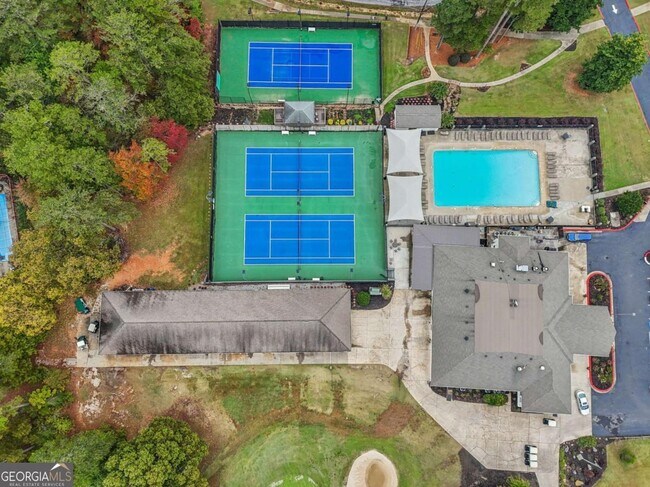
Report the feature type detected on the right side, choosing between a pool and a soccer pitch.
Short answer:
pool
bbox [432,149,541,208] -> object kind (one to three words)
swimming pool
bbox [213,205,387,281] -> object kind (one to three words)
tennis court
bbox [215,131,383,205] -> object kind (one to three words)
tennis court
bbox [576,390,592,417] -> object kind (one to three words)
car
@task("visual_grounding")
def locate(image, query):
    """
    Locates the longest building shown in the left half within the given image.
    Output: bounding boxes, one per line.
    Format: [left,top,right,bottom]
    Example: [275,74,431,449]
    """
[98,288,352,354]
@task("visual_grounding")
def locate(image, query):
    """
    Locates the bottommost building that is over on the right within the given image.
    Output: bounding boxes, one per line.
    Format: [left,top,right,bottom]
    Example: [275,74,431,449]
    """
[409,225,615,414]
